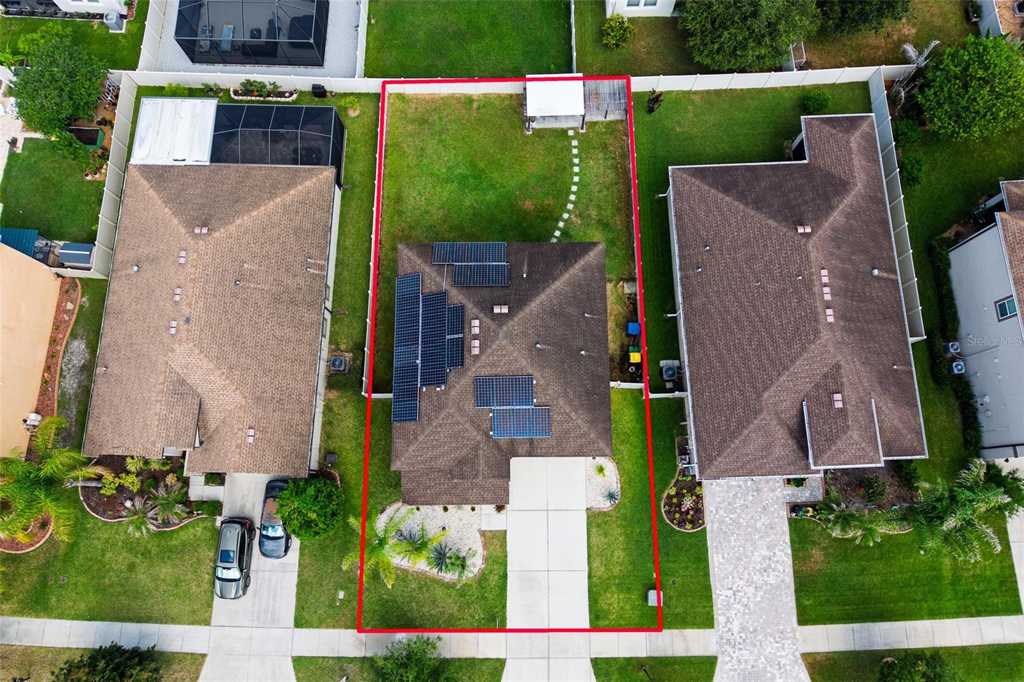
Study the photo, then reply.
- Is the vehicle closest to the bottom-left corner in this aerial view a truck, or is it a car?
car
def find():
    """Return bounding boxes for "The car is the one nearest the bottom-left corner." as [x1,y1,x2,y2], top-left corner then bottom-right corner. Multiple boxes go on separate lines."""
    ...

[208,516,257,602]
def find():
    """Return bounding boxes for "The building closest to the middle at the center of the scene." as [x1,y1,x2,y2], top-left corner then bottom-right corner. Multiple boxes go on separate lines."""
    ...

[390,242,612,505]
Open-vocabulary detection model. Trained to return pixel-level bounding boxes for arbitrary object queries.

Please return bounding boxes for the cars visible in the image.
[252,479,293,562]
[208,516,257,602]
